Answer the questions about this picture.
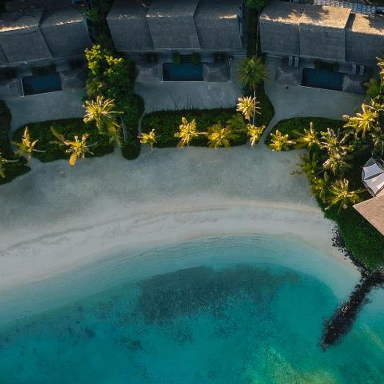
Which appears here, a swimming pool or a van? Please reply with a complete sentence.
There is a swimming pool in the scene.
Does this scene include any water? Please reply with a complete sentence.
Yes, there is water in the image.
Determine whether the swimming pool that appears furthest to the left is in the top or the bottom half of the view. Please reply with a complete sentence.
The swimming pool that appears furthest to the left is in the top half of the image.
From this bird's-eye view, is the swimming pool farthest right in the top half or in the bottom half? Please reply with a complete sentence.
The swimming pool farthest right sits in the top half of the picture.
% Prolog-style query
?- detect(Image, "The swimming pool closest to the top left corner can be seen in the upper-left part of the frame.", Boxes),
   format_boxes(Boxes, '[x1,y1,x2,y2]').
[22,71,62,96]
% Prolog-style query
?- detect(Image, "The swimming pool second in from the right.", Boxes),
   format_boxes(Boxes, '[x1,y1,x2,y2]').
[162,62,203,81]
